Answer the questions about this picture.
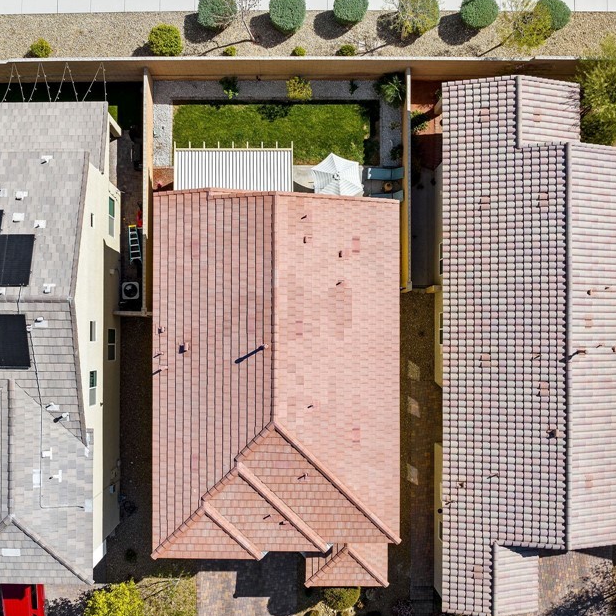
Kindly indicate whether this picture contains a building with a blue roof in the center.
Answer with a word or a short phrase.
No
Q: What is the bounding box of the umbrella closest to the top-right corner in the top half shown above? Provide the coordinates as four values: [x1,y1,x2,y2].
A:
[311,149,362,195]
